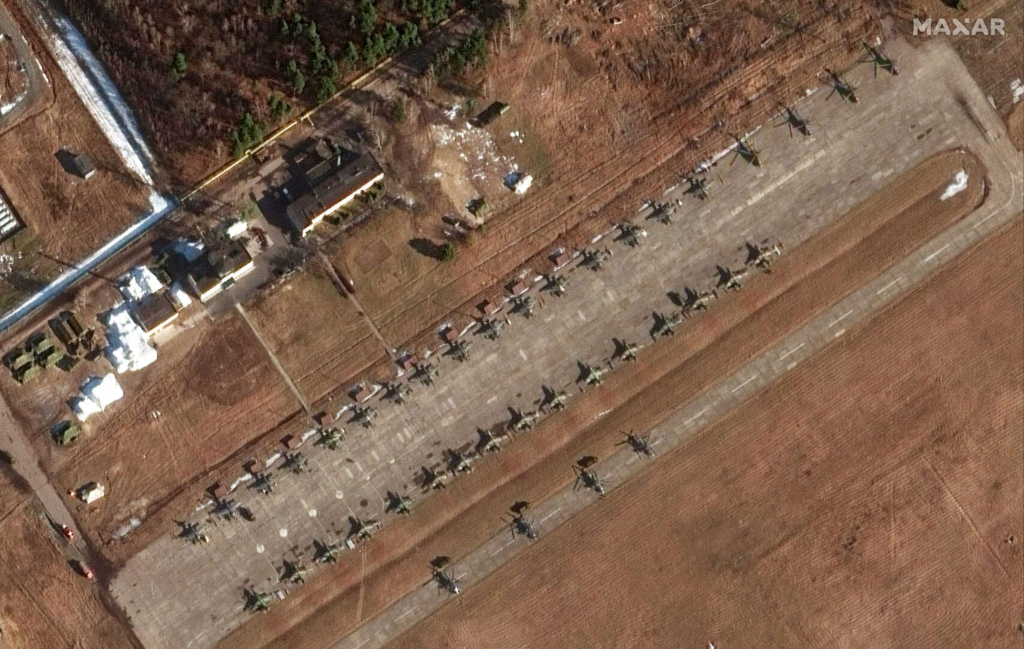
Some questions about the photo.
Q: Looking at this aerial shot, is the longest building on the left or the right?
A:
left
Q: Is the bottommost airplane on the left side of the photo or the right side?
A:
left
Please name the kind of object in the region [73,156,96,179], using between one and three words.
shed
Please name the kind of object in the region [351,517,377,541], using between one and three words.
airplane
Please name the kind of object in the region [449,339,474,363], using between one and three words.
airplane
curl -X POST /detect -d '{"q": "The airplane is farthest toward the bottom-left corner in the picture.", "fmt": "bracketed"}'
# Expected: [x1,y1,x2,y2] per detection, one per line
[183,521,209,546]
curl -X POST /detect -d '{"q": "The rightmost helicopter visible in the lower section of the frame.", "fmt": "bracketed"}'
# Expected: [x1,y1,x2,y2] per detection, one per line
[629,429,663,461]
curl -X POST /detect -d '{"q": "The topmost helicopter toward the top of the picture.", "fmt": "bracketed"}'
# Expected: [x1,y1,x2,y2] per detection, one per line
[864,44,905,80]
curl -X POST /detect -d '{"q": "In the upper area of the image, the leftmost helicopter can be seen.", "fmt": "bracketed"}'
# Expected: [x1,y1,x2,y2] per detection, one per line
[732,135,774,170]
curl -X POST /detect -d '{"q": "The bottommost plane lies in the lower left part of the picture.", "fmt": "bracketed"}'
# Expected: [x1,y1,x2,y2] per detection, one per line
[248,588,275,612]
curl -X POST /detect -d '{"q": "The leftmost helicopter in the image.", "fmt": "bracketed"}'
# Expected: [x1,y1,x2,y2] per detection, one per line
[433,564,468,595]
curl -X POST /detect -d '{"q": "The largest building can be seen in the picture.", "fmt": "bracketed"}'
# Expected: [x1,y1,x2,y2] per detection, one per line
[285,152,386,237]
